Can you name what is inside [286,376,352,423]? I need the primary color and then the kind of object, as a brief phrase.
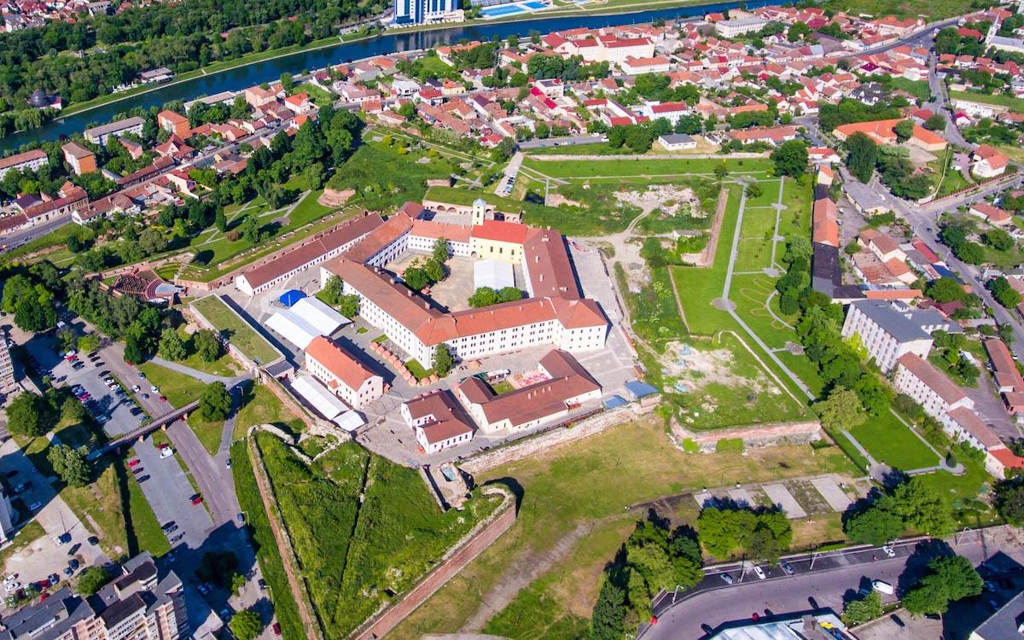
white tent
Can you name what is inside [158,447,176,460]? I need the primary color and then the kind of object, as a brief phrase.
white vehicle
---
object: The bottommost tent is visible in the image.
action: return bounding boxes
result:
[329,413,368,440]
